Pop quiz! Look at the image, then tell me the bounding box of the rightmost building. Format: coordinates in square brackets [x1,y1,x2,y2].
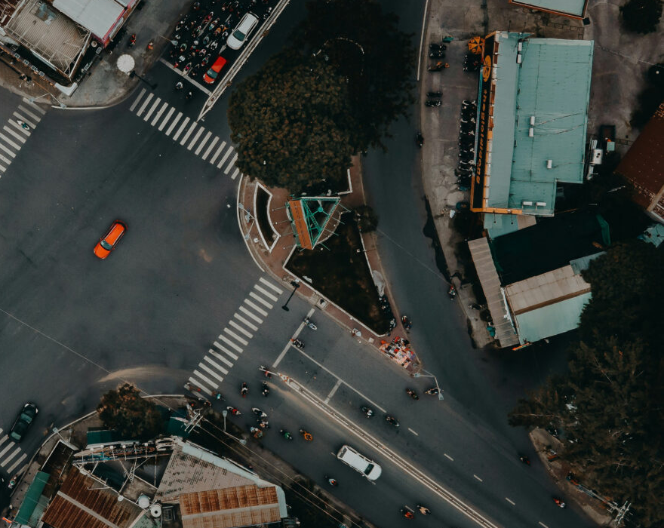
[598,108,664,226]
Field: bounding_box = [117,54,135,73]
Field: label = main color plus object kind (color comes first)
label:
white umbrella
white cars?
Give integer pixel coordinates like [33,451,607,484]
[225,10,261,53]
[336,444,383,483]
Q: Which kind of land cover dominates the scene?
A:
paved ground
